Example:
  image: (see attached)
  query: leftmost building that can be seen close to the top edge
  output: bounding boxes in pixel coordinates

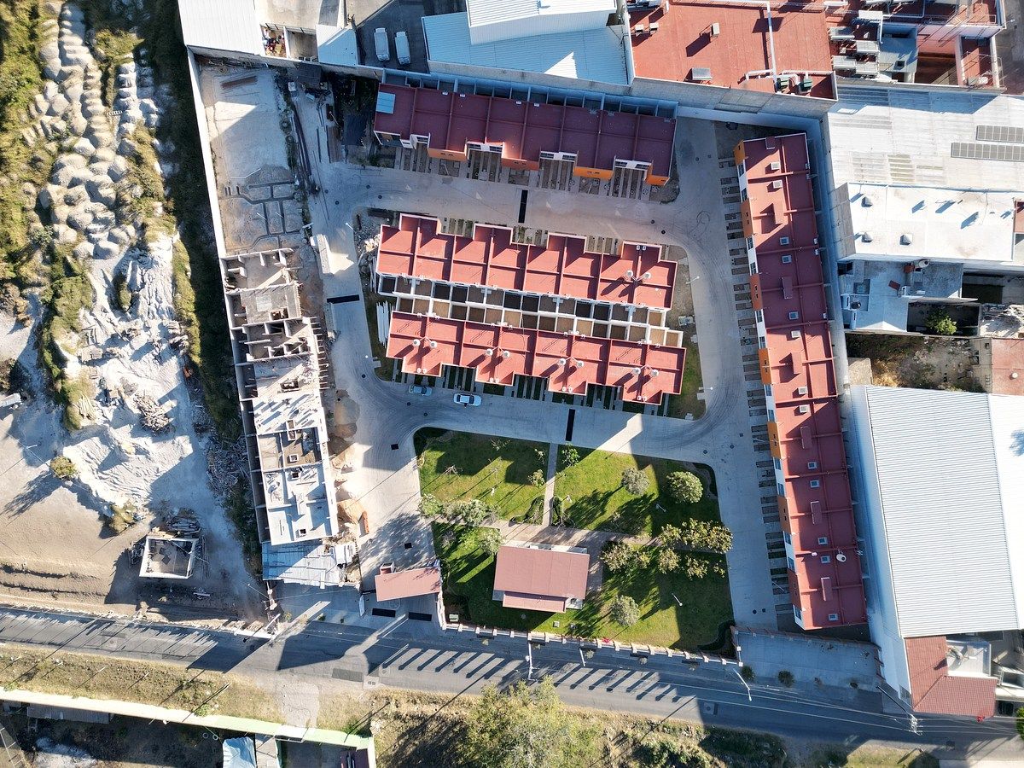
[183,0,272,57]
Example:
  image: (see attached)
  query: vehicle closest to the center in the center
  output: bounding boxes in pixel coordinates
[454,393,482,406]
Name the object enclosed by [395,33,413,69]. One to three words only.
vehicle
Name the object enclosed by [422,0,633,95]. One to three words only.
building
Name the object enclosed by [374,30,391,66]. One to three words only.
vehicle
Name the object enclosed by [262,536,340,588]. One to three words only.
shed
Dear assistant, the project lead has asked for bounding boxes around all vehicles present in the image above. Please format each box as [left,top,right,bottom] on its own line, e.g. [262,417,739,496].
[998,698,1016,720]
[454,393,482,406]
[409,384,433,397]
[374,30,391,66]
[395,33,413,69]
